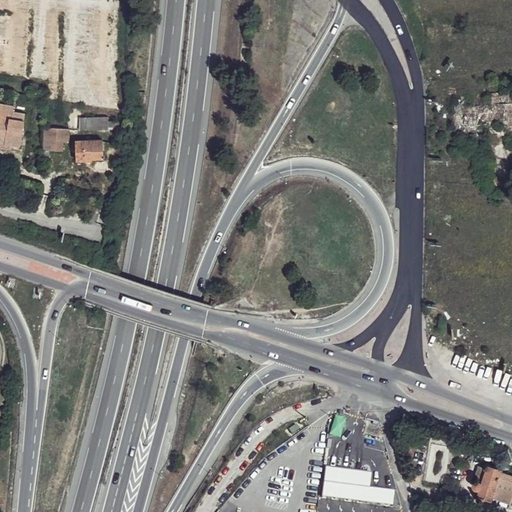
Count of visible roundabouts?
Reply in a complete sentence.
The photo contains no roundabouts.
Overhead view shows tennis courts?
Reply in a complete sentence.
No, the photo shows no tennis court.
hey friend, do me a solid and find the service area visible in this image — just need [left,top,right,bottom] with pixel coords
[321,413,401,512]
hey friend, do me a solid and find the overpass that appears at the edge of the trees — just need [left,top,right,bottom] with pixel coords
[84,268,264,358]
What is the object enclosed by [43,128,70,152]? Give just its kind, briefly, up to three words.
house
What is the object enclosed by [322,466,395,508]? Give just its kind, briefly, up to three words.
building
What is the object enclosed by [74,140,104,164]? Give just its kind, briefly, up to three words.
house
